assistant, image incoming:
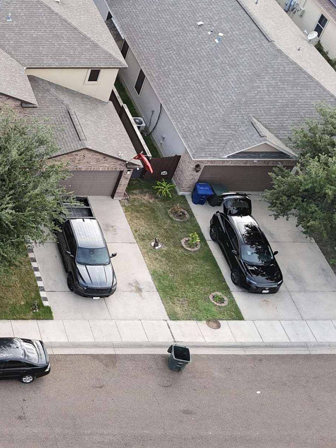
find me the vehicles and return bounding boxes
[0,337,55,384]
[51,199,118,299]
[210,198,280,295]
